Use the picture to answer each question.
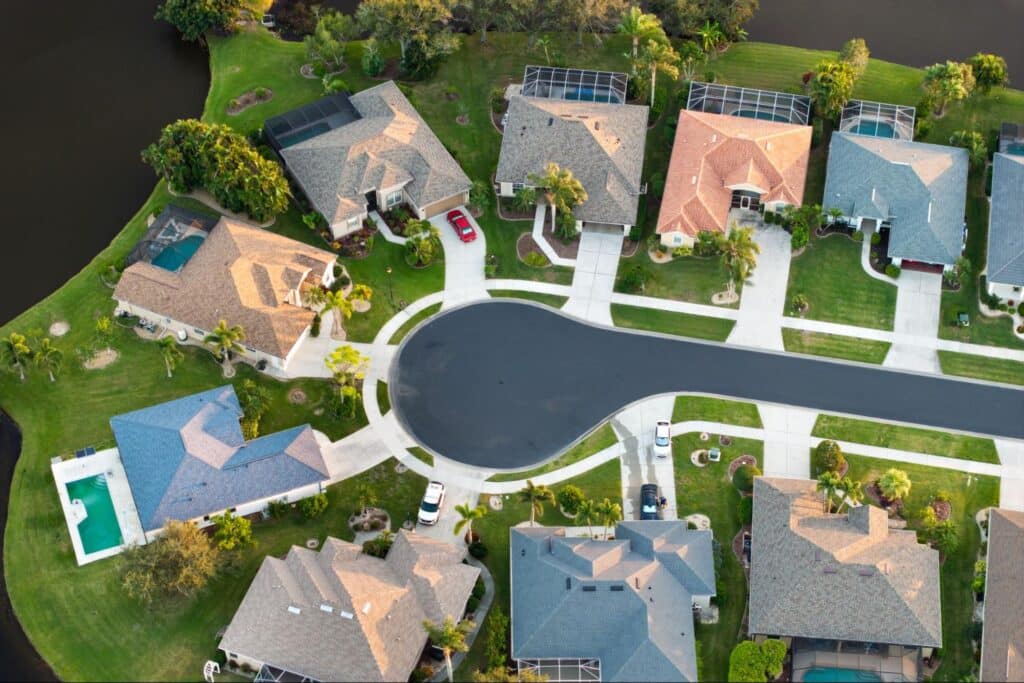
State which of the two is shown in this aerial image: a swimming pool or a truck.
swimming pool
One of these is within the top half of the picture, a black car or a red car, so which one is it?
red car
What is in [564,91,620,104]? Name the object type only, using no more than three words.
swimming pool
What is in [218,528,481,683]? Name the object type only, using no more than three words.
house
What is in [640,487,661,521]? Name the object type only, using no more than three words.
car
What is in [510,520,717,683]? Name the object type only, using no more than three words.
house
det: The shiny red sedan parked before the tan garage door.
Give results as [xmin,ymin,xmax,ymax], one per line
[449,211,475,244]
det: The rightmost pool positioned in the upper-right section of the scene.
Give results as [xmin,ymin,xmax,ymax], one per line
[846,117,899,139]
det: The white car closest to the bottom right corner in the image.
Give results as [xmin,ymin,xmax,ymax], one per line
[653,424,672,461]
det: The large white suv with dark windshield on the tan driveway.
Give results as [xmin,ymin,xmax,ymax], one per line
[420,482,444,526]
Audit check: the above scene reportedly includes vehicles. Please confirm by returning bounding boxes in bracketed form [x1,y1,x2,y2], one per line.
[653,424,672,461]
[640,487,661,521]
[420,482,444,526]
[449,211,475,244]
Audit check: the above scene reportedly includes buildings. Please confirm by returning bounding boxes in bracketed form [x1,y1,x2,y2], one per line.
[279,80,472,232]
[822,131,969,274]
[218,528,481,683]
[977,507,1024,683]
[987,153,1024,299]
[112,216,337,366]
[495,95,650,235]
[749,475,942,655]
[109,384,330,539]
[655,109,813,247]
[510,520,717,683]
